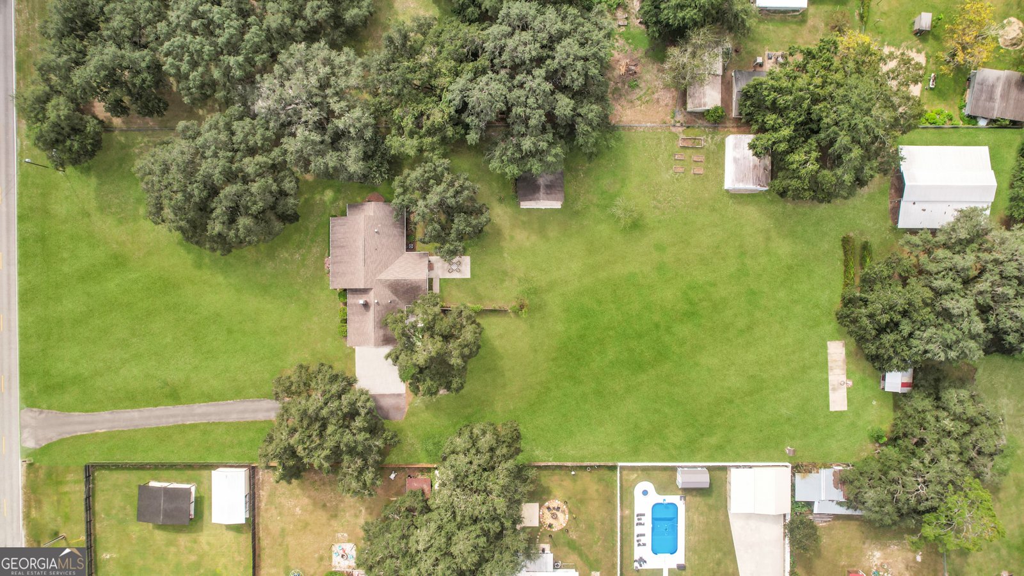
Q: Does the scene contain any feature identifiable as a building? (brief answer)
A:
Yes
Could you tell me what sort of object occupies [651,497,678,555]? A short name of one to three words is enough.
swimming pool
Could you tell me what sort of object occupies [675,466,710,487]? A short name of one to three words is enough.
shed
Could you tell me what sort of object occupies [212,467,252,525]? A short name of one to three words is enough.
building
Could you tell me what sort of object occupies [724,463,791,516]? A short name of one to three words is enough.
building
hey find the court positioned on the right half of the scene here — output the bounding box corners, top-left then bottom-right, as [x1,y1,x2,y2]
[828,341,847,411]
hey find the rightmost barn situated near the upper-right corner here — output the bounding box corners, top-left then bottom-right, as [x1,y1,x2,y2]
[965,68,1024,124]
